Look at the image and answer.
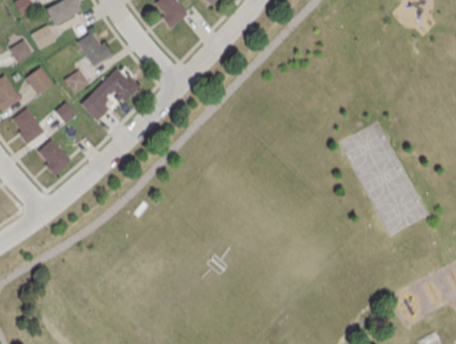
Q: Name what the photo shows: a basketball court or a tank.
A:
basketball court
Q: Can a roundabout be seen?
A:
No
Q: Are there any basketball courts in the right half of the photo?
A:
Yes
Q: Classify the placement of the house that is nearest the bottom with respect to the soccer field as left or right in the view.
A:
left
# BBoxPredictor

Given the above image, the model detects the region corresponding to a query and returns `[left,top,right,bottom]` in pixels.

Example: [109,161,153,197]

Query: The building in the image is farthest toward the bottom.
[38,139,70,174]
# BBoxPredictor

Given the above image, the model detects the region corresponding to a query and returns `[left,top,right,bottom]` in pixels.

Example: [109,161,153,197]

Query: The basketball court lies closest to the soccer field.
[341,122,428,236]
